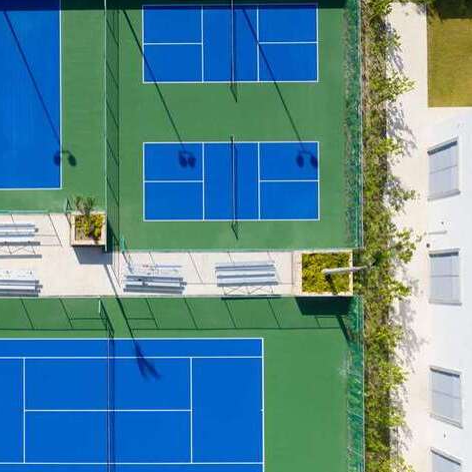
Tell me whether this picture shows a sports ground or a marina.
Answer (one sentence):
This image shows a sports ground.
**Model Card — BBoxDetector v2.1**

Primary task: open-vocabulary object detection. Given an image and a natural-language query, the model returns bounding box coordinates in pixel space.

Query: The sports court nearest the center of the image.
[143,142,320,220]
